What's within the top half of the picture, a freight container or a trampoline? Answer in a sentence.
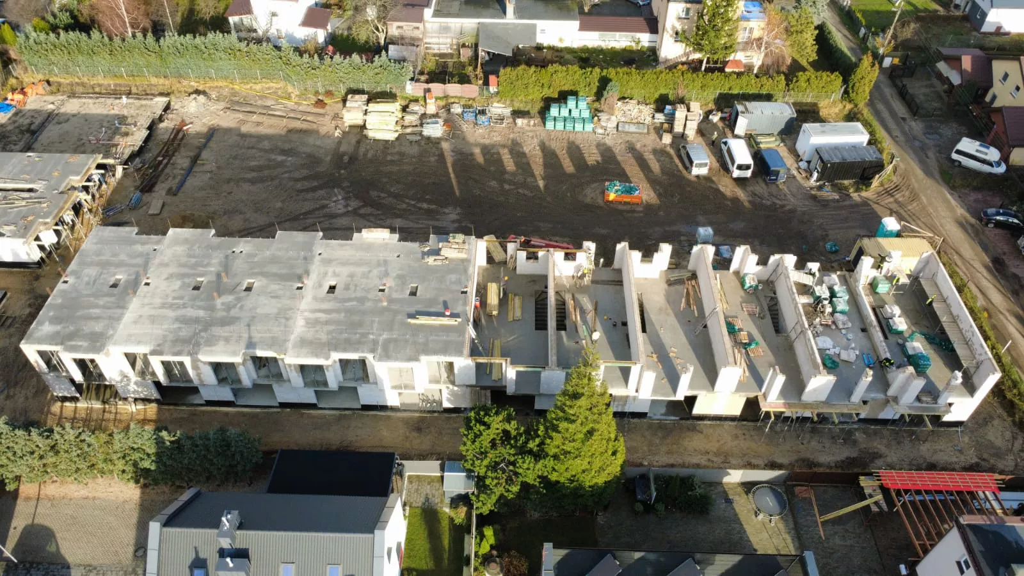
The one visible within the top half of the picture is a freight container.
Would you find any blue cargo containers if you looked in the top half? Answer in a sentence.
No, no blue cargo container appears in the top half.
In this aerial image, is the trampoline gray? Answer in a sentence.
Yes, gray is the color of the trampoline.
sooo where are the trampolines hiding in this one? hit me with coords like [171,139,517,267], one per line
[748,483,792,535]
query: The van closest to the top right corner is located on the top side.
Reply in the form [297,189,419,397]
[952,135,1012,173]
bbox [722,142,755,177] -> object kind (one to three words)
van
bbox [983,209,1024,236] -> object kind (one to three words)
car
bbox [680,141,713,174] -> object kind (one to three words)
van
